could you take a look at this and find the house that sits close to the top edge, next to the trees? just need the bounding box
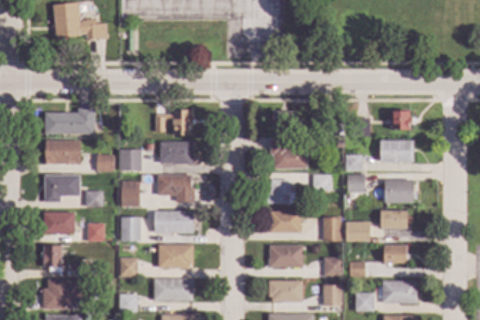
[50,2,108,40]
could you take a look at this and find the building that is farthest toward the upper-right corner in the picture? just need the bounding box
[392,109,417,130]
